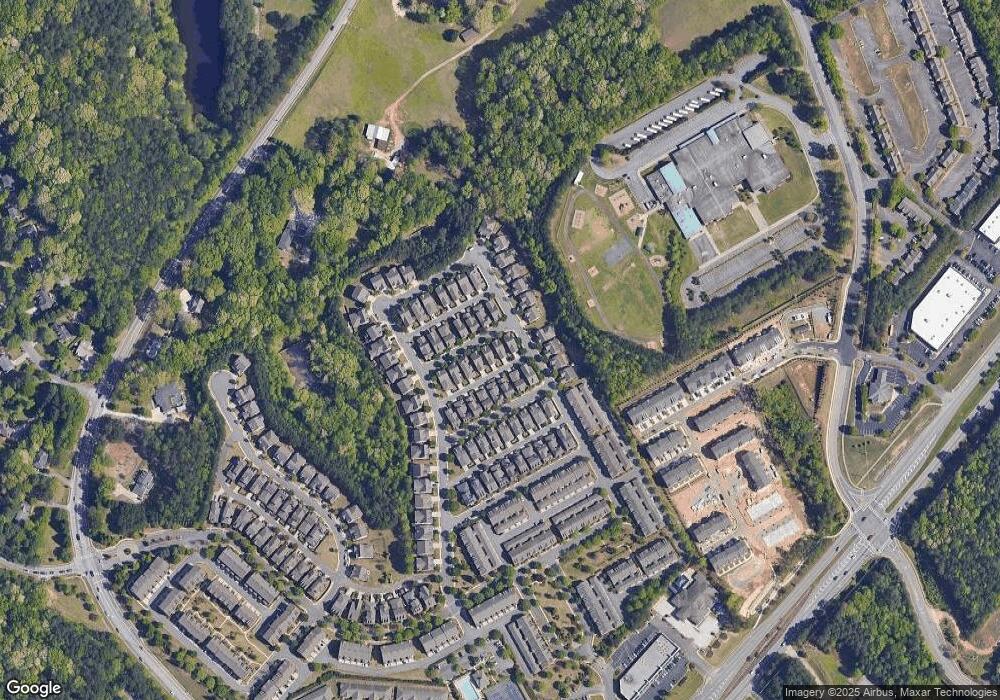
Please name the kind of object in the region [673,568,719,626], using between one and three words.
building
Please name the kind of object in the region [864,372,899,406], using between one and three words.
building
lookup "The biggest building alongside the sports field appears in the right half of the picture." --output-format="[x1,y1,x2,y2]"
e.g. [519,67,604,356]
[646,114,791,238]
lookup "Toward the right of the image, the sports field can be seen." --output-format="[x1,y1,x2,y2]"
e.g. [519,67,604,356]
[564,189,666,346]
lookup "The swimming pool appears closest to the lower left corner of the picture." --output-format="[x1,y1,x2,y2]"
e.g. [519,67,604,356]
[452,672,484,700]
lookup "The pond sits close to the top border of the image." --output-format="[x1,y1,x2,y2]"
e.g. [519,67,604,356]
[171,0,226,121]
